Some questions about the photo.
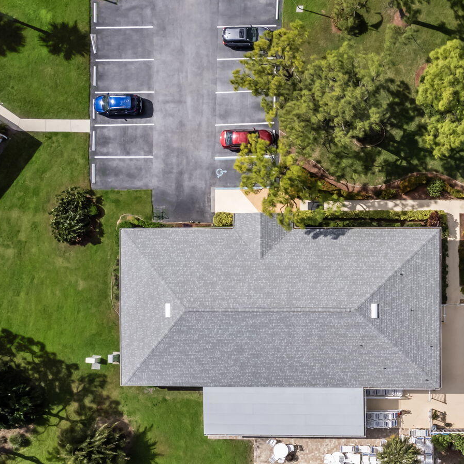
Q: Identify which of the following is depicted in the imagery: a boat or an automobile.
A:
automobile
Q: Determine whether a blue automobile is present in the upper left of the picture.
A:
Yes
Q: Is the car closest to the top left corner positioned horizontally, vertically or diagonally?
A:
horizontally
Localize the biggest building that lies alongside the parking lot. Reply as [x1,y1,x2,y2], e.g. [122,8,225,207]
[119,212,441,387]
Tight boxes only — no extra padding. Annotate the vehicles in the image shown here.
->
[95,91,144,116]
[221,127,274,151]
[222,25,269,51]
